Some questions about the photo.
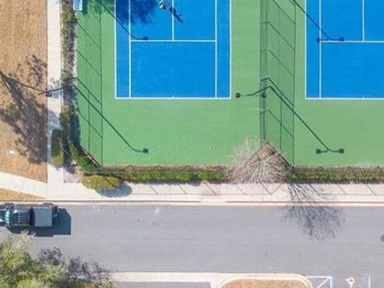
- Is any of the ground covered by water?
No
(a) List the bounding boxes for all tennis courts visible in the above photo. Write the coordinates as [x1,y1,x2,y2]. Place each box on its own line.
[113,0,231,98]
[304,0,384,99]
